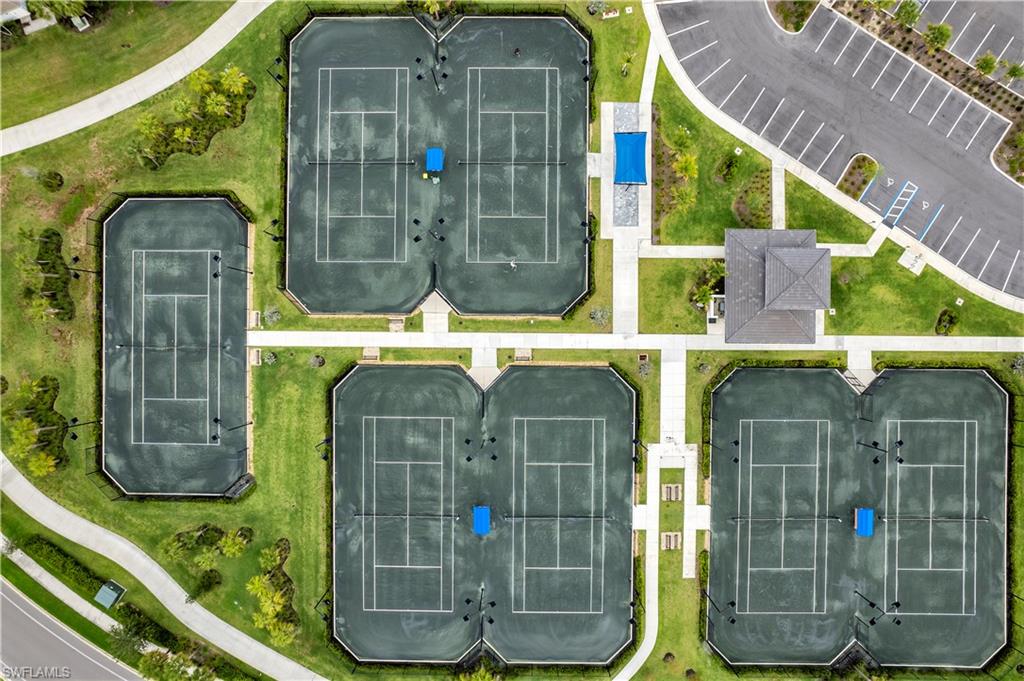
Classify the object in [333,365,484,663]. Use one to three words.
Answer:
tennis court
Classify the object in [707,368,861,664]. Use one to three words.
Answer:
tennis court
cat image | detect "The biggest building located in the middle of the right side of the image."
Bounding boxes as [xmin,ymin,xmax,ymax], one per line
[721,228,831,344]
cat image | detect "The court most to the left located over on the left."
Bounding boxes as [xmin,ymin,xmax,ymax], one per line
[103,198,249,495]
